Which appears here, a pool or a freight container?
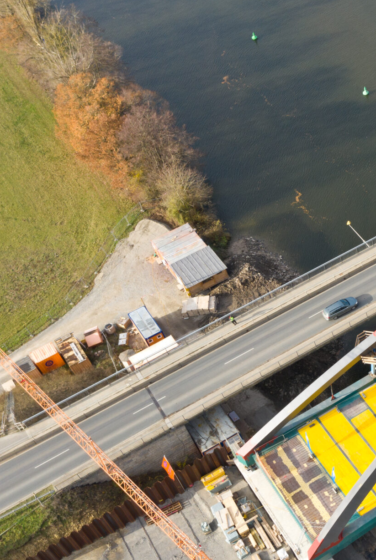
freight container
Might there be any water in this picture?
Yes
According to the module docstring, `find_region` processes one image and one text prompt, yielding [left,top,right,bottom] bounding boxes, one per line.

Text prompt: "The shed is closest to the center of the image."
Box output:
[152,224,229,302]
